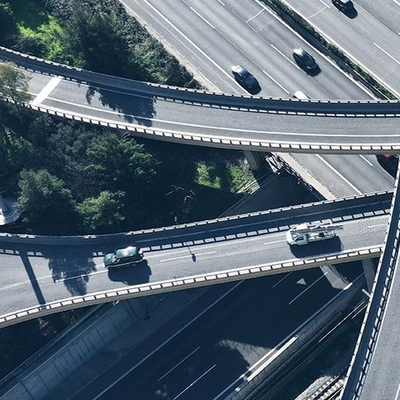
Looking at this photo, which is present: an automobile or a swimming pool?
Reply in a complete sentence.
Of the two, only an automobile appears.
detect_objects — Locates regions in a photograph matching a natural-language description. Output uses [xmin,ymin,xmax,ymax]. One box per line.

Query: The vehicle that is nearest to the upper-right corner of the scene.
[329,0,356,13]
